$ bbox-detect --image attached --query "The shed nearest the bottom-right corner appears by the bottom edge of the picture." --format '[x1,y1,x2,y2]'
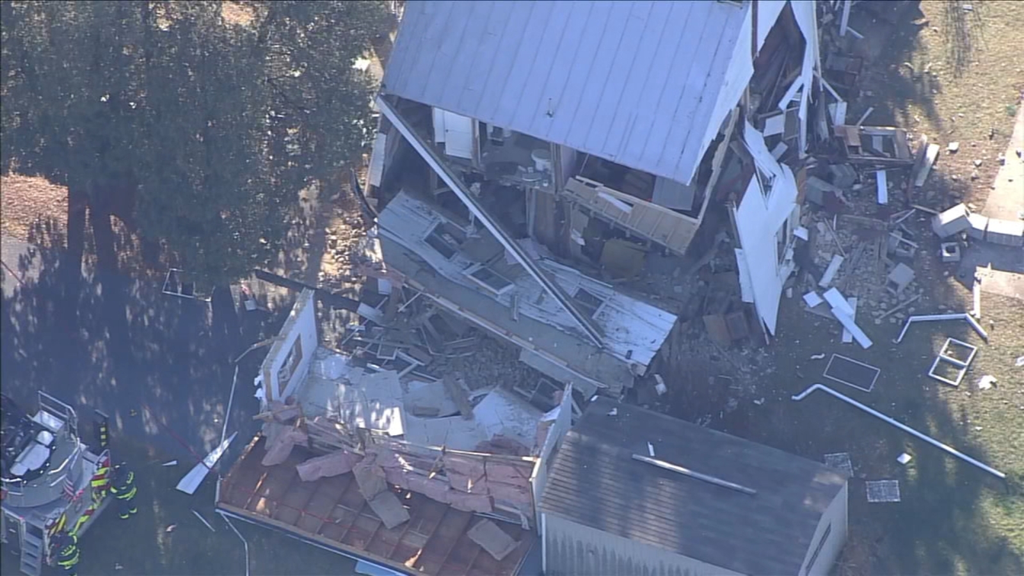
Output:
[538,395,848,576]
